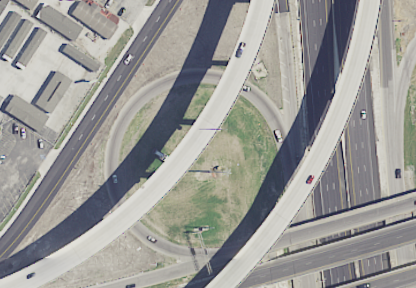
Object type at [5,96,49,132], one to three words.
building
